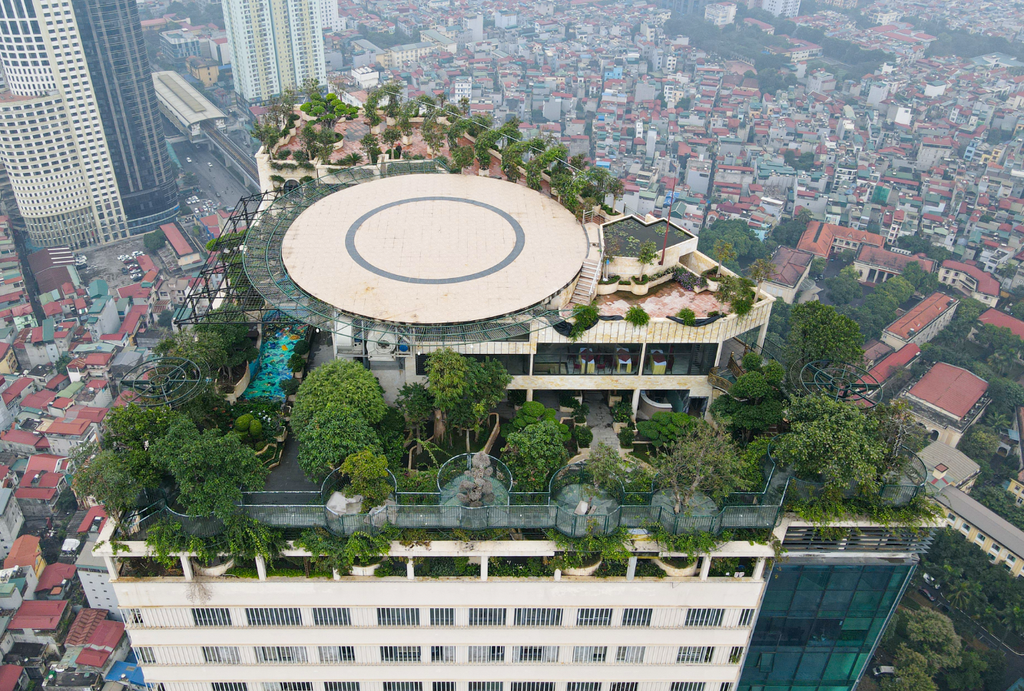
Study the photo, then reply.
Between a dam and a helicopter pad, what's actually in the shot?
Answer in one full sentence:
Of the two, only a helicopter pad appears.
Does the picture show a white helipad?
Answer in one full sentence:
Yes, the frame does contain a white helipad.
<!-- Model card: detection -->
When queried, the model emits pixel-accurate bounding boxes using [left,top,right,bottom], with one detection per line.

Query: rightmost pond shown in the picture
[600,214,700,278]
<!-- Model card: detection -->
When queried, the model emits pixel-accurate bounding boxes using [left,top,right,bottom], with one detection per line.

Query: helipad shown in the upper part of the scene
[281,174,587,334]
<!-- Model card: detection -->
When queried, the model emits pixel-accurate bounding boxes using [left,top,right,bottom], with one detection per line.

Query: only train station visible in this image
[154,65,255,148]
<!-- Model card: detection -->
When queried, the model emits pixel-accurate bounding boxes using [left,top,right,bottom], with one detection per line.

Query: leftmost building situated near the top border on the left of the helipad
[0,0,126,251]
